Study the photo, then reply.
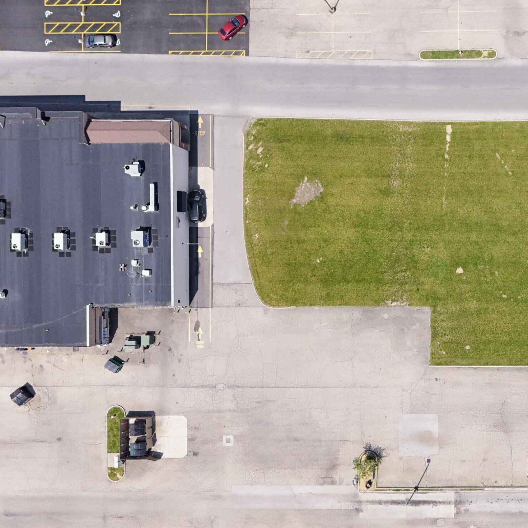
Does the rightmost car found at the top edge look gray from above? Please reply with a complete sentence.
No, the rightmost car found at the top edge is red.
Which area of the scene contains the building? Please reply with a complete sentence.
The building appears toward the left of the photo.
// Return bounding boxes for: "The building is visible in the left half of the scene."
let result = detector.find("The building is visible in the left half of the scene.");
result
[0,107,195,348]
